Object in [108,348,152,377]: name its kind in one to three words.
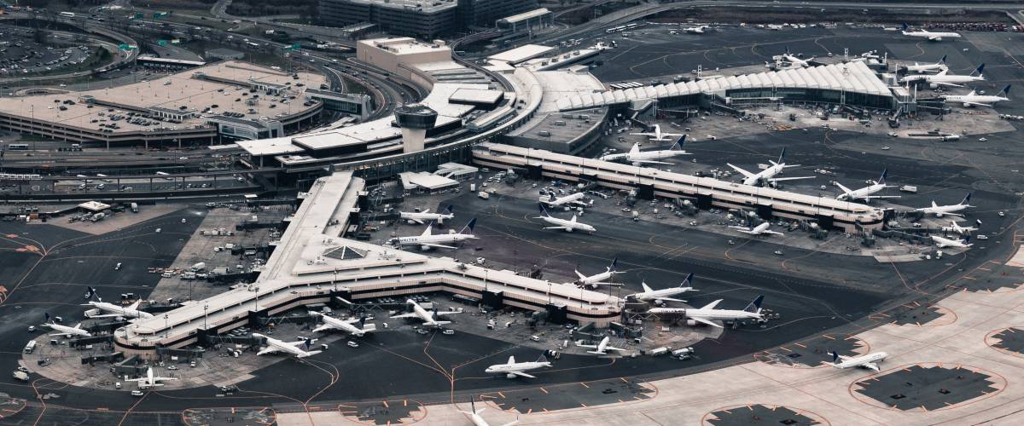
jet bridge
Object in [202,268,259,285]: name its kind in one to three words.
jet bridge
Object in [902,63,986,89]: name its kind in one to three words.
airplane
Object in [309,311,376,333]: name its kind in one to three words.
airplane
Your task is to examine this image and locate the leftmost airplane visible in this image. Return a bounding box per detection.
[41,314,94,338]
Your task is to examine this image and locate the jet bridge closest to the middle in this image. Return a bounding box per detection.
[505,169,522,187]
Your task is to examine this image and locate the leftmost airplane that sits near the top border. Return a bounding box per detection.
[683,18,714,34]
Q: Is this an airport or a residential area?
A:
airport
